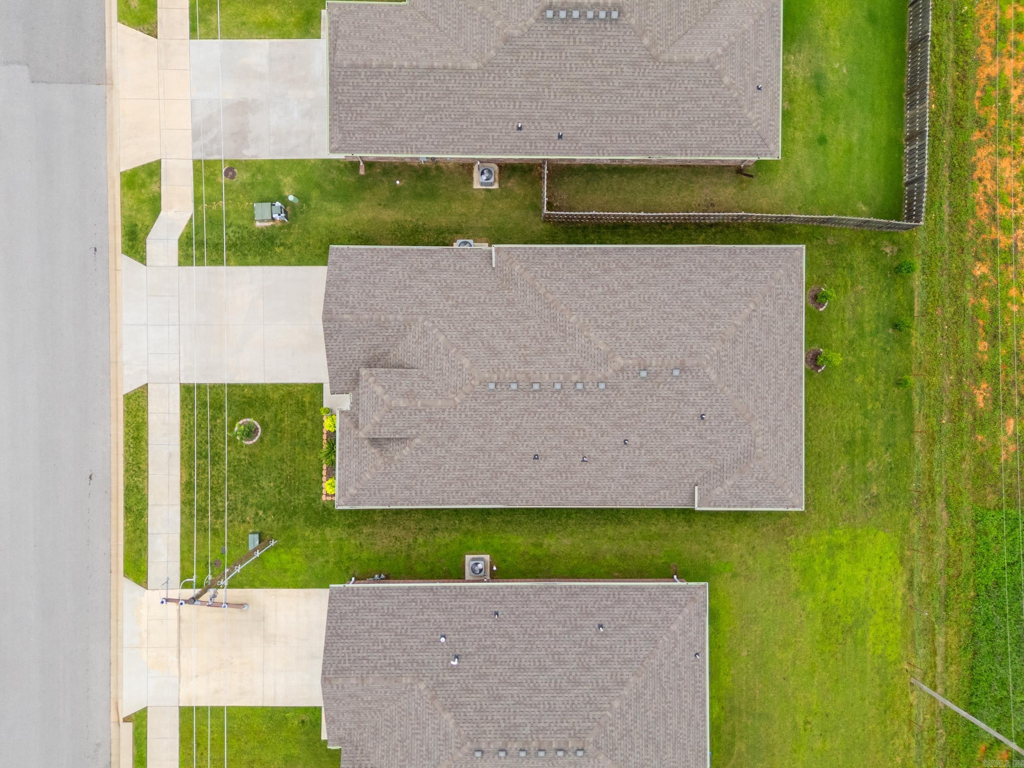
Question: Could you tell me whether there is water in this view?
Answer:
No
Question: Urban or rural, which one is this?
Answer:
urban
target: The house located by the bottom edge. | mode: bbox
[319,570,708,768]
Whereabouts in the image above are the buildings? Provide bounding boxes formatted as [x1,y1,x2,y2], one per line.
[320,244,806,510]
[332,0,782,168]
[319,570,708,768]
